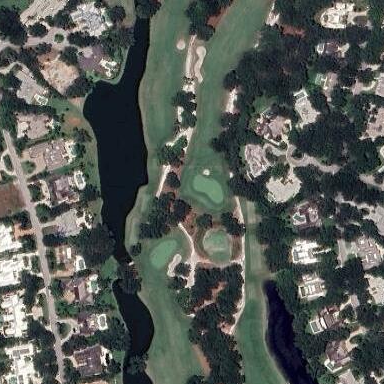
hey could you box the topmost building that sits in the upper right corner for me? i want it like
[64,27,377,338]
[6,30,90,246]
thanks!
[325,1,354,29]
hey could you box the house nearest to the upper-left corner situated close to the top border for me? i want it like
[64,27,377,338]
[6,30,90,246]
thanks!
[20,0,64,25]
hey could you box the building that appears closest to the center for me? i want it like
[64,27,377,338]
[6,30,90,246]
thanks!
[239,139,271,176]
